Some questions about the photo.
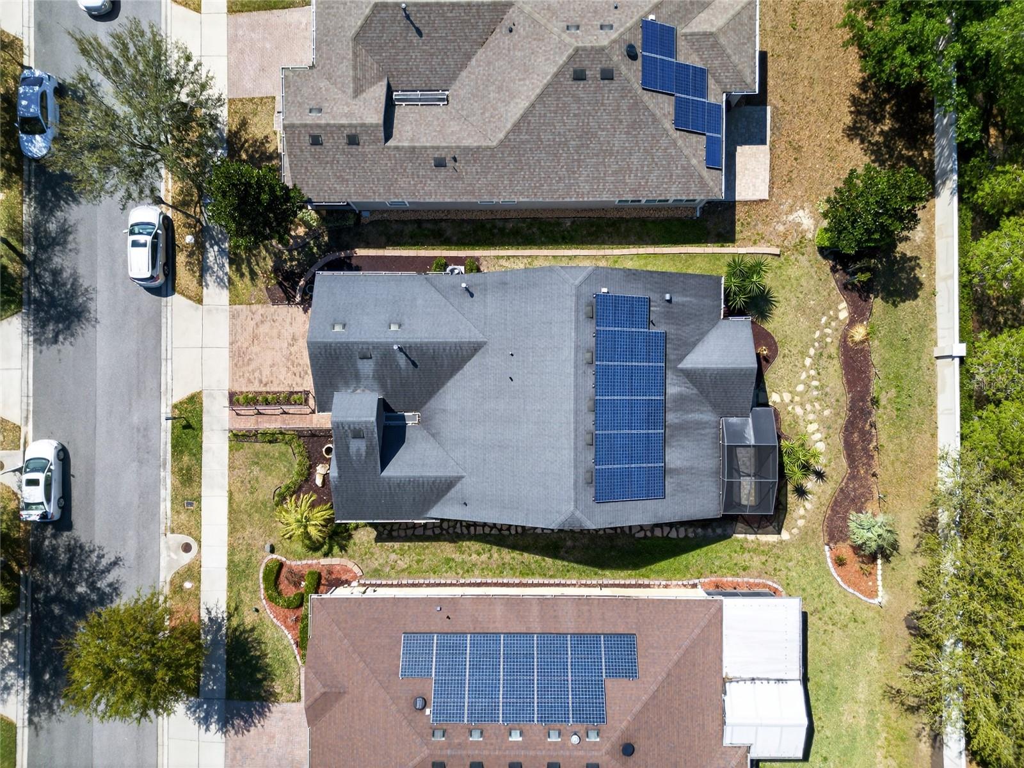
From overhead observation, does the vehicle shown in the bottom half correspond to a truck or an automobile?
automobile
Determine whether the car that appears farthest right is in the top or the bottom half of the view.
top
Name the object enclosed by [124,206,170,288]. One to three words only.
car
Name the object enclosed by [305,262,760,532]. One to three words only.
house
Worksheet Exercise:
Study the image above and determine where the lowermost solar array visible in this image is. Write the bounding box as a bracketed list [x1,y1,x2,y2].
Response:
[398,633,640,729]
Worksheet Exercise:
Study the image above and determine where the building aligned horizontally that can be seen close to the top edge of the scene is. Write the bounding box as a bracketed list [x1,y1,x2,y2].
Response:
[282,0,759,213]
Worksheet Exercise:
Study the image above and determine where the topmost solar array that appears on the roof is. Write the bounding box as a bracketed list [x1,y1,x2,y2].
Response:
[640,17,720,169]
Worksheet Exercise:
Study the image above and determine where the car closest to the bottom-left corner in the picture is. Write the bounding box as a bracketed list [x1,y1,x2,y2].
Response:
[5,439,69,527]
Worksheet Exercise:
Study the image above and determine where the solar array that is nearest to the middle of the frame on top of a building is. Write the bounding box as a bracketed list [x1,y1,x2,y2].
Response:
[594,291,667,502]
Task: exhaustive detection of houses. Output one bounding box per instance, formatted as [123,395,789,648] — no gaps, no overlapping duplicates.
[305,262,760,532]
[282,0,759,213]
[300,581,751,768]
